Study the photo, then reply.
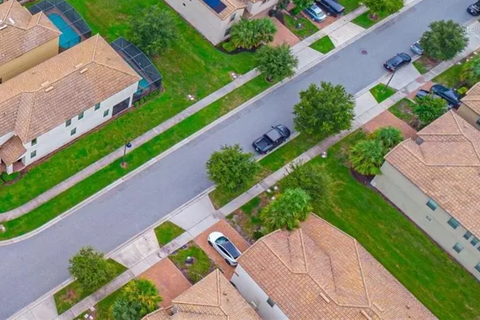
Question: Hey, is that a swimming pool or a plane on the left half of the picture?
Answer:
swimming pool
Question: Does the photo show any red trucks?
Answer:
No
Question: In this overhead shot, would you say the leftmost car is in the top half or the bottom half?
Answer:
bottom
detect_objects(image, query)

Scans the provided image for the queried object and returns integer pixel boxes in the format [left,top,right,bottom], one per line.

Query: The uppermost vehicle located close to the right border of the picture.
[464,0,480,20]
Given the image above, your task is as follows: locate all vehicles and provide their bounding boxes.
[312,0,344,19]
[381,50,412,75]
[205,227,245,268]
[464,0,480,20]
[406,39,432,61]
[296,0,330,27]
[405,81,447,108]
[427,81,466,111]
[247,123,292,157]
